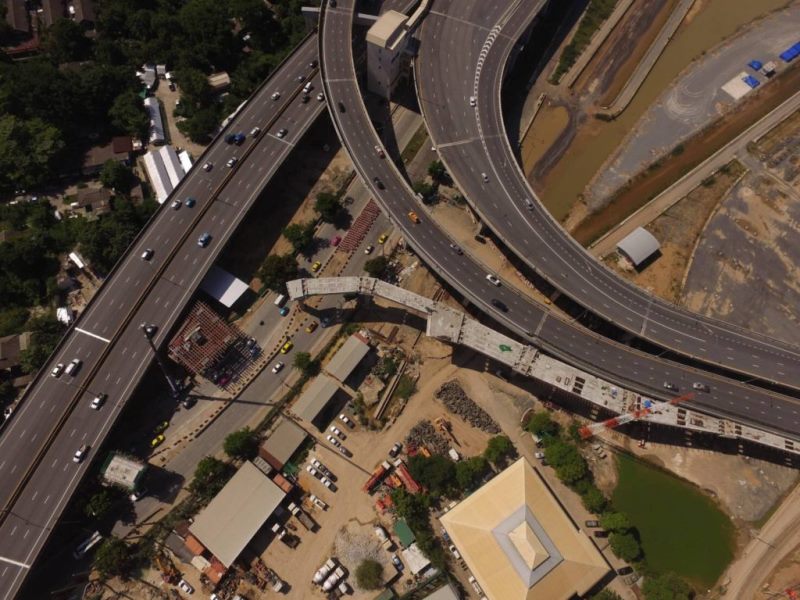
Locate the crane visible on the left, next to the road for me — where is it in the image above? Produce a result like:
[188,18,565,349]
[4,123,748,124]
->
[140,325,198,412]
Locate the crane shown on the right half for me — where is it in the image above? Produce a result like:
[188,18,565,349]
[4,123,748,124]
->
[550,391,696,441]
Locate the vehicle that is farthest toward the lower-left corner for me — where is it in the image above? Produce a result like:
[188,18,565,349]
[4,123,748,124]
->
[62,524,106,565]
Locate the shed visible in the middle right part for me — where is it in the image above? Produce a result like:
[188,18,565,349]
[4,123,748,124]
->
[612,227,660,271]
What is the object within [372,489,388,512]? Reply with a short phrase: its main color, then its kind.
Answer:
red work vehicle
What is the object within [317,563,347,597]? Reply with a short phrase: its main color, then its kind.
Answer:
white truck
